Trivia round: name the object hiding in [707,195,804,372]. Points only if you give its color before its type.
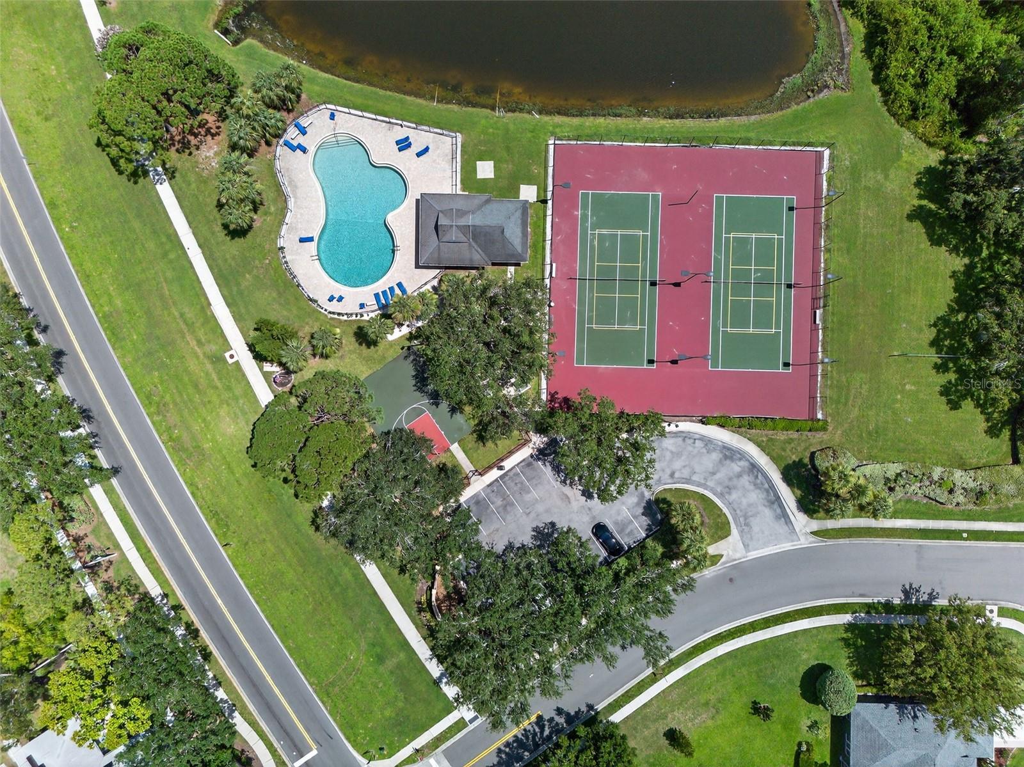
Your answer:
green tennis court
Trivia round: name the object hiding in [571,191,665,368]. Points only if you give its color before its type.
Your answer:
green tennis court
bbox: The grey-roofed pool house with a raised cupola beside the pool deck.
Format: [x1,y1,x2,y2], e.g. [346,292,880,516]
[419,193,529,268]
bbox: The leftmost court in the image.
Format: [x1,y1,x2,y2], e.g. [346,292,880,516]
[353,346,481,471]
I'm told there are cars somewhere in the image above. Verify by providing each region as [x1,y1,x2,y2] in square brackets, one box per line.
[591,523,621,559]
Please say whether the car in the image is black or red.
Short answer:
black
